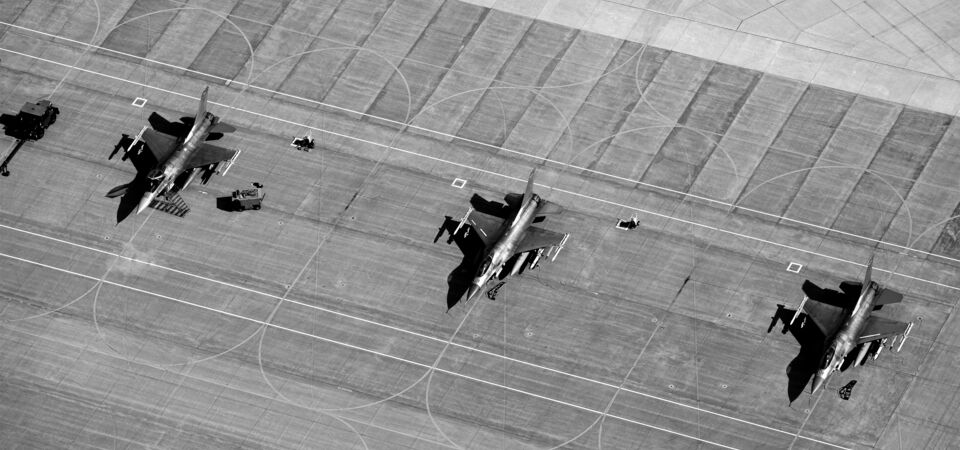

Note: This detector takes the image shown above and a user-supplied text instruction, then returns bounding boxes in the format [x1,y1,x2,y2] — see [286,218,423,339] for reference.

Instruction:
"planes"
[128,87,242,216]
[452,170,571,302]
[790,256,914,396]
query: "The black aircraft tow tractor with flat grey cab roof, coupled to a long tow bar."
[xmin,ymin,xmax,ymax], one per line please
[16,98,60,140]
